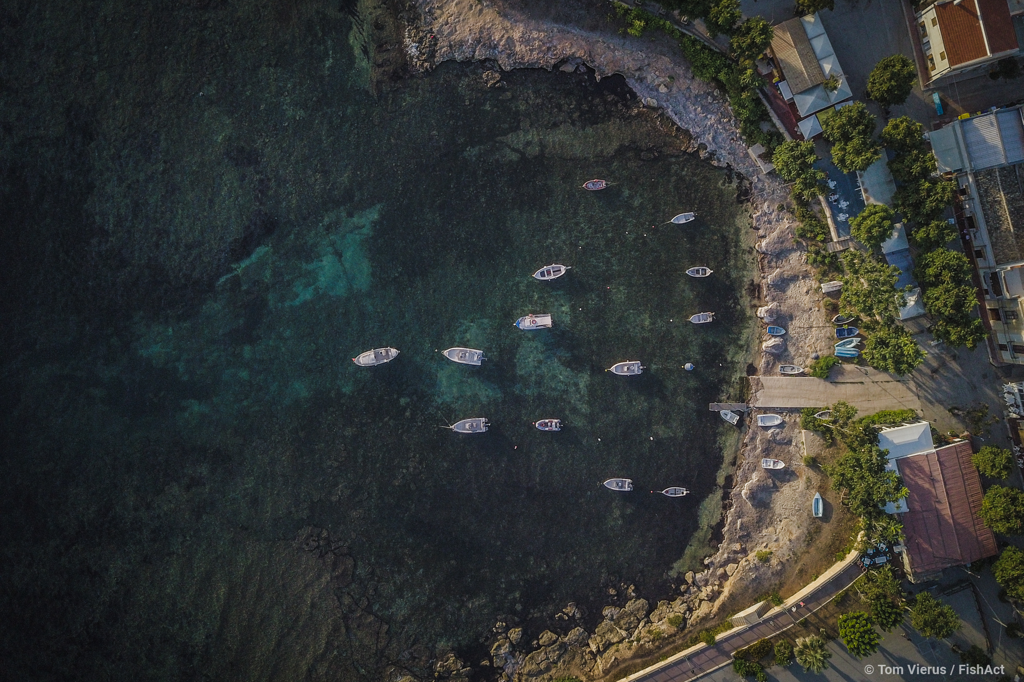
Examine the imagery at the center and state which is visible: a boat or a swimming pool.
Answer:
boat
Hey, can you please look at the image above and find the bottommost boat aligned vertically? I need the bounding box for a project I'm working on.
[813,493,825,518]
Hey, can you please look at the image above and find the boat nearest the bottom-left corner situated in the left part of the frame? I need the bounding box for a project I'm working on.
[348,345,400,367]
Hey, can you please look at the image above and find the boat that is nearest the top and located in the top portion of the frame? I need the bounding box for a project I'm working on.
[582,179,612,191]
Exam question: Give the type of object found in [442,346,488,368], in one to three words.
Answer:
boat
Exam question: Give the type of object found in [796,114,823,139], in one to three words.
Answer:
tent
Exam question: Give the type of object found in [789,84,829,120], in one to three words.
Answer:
tent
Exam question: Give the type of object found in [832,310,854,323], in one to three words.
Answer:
boat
